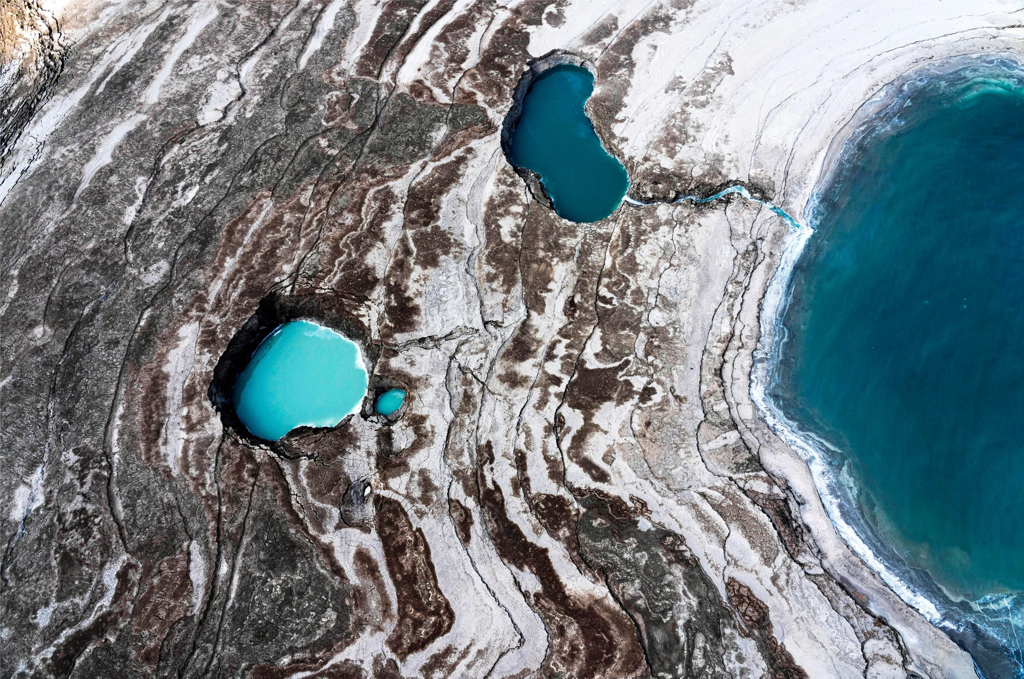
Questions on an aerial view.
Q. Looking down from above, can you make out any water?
Yes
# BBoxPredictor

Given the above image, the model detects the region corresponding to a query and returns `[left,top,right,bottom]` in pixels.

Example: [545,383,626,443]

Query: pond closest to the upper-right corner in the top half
[510,64,630,222]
